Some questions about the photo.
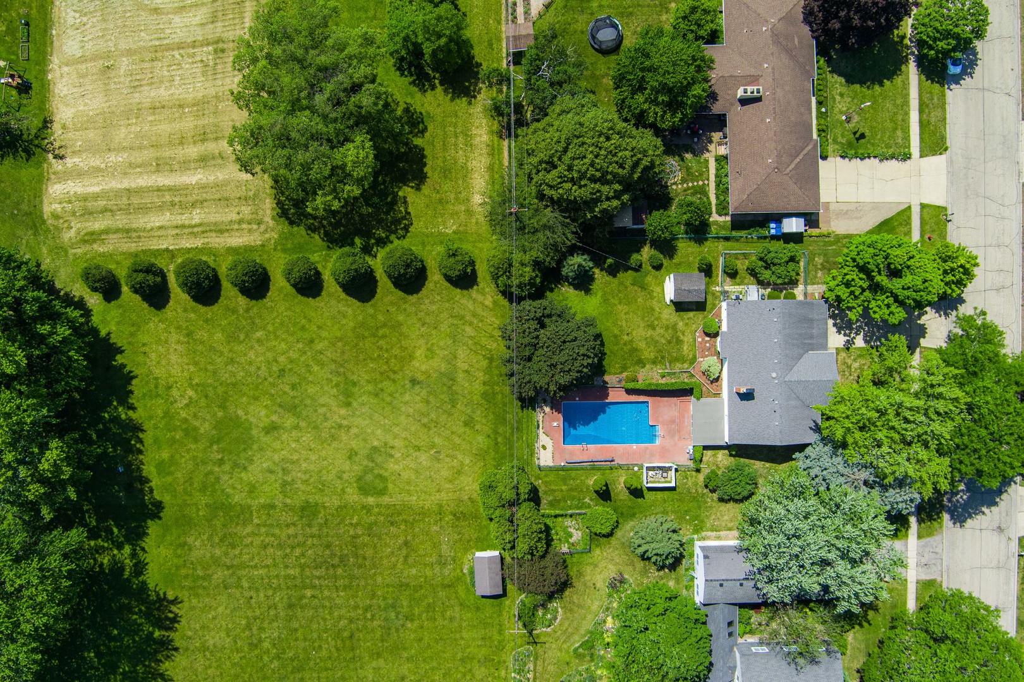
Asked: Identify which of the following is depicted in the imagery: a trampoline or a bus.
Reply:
trampoline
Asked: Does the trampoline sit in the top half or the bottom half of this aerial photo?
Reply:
top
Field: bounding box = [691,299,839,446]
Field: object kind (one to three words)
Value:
house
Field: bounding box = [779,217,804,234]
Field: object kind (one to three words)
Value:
shed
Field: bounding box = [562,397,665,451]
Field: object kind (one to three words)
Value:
swimming pool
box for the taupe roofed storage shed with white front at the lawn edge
[474,552,503,599]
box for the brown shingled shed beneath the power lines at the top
[506,23,534,56]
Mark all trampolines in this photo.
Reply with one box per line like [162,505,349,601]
[588,12,624,54]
